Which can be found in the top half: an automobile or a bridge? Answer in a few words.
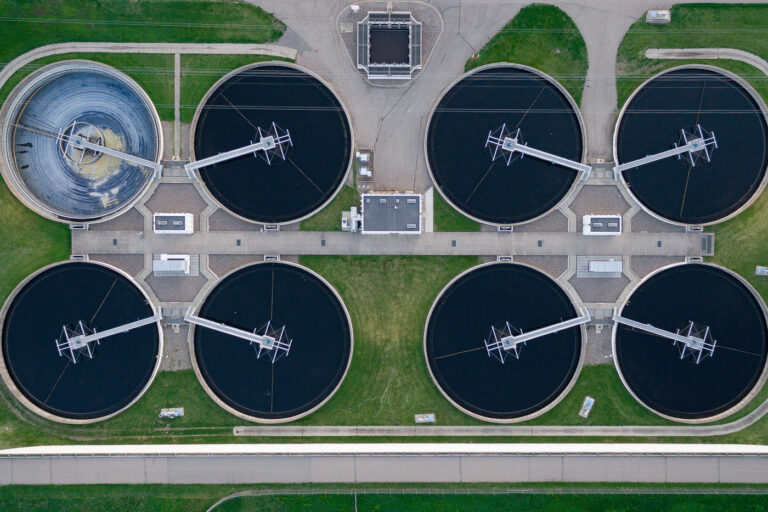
bridge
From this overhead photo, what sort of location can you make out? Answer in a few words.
industrial area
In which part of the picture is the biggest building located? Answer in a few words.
center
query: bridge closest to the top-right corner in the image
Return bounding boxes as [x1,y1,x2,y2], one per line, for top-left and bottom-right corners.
[615,136,706,184]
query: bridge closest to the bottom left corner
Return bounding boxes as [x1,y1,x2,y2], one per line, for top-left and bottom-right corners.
[70,303,162,350]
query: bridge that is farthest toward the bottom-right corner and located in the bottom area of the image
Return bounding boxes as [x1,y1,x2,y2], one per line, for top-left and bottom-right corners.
[614,304,704,352]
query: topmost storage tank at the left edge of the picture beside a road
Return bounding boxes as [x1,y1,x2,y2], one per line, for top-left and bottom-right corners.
[0,59,166,223]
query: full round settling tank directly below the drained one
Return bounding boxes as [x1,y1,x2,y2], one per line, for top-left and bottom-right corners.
[0,260,166,424]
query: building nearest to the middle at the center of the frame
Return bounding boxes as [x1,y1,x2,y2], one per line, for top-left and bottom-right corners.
[361,193,423,235]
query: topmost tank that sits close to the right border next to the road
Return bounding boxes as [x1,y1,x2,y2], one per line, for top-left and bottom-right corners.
[611,64,768,226]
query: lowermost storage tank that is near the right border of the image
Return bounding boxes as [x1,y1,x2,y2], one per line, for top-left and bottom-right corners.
[610,262,768,424]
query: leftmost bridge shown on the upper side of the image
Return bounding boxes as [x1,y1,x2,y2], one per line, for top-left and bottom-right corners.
[70,133,162,180]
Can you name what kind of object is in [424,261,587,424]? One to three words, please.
storage tank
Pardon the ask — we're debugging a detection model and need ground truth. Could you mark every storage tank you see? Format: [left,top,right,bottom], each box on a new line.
[611,64,768,226]
[189,260,353,424]
[424,261,587,424]
[190,61,355,224]
[0,260,166,424]
[424,63,588,225]
[0,59,166,223]
[610,262,768,424]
